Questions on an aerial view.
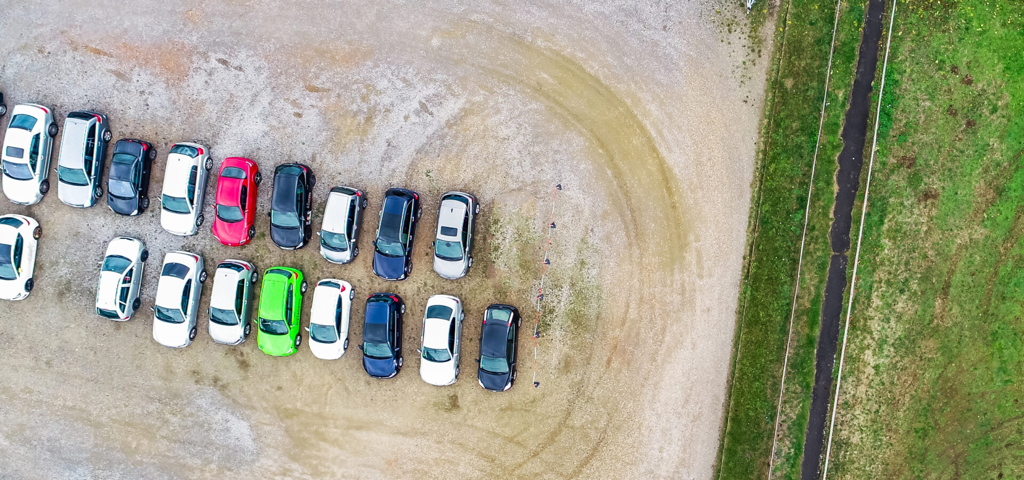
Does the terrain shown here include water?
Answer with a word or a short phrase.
No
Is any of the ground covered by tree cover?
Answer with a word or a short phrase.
No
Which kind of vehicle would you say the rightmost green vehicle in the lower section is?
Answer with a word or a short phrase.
automobile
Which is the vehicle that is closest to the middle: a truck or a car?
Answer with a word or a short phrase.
car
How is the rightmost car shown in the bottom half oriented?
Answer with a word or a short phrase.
up and down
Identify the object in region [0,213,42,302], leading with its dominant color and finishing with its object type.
white car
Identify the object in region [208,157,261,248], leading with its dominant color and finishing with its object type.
red car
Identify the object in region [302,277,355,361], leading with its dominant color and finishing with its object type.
white car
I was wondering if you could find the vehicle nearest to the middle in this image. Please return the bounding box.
[427,190,480,280]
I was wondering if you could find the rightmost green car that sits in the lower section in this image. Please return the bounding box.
[253,266,307,358]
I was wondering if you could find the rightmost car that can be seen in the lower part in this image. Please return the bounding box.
[472,304,522,393]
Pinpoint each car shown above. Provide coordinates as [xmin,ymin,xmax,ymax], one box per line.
[368,188,422,283]
[50,109,111,209]
[202,258,258,346]
[263,161,316,251]
[0,104,58,205]
[427,190,480,280]
[0,213,42,302]
[472,304,522,393]
[148,250,207,349]
[413,294,465,388]
[253,266,307,358]
[356,292,406,380]
[94,235,148,323]
[154,140,212,237]
[208,157,261,248]
[101,137,156,217]
[313,184,367,266]
[302,277,355,361]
